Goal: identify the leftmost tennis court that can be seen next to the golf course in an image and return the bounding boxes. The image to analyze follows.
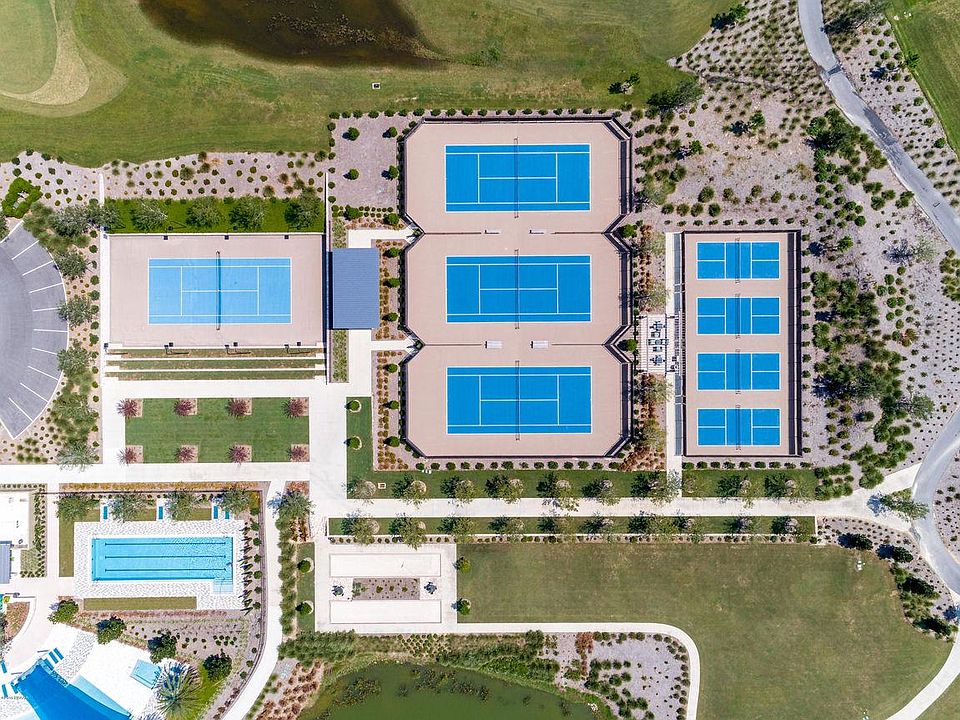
[112,237,327,347]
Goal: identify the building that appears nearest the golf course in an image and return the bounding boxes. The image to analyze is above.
[333,248,381,329]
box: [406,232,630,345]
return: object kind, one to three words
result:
tennis court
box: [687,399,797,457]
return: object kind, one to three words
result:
sports court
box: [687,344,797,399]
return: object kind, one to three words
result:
sports court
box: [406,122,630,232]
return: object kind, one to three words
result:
tennis court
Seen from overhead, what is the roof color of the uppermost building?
blue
